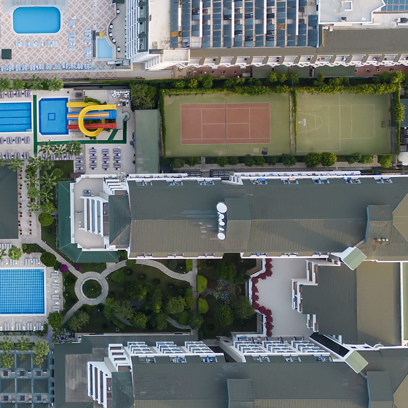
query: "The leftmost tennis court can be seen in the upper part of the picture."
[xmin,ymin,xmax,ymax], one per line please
[164,92,290,156]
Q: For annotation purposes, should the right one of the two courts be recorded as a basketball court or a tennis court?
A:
basketball court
